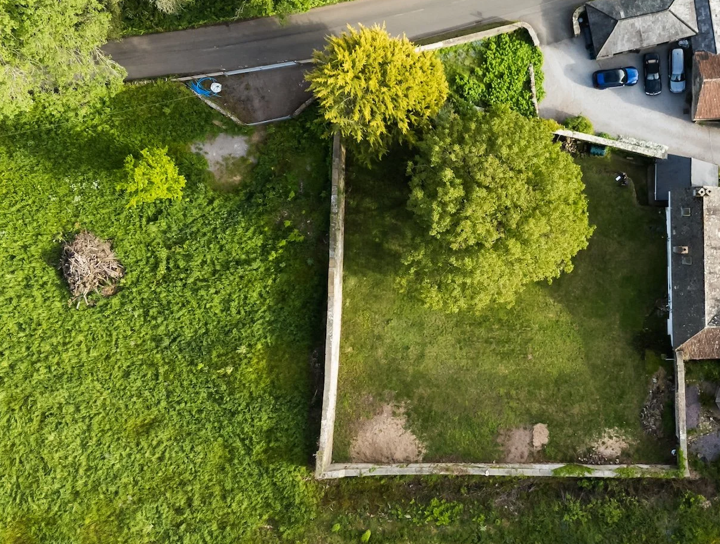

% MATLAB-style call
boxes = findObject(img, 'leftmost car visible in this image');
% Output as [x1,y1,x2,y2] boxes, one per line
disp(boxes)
[593,64,638,90]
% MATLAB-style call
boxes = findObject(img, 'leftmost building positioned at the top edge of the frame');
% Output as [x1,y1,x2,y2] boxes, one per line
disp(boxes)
[585,0,695,63]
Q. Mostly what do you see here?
grass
